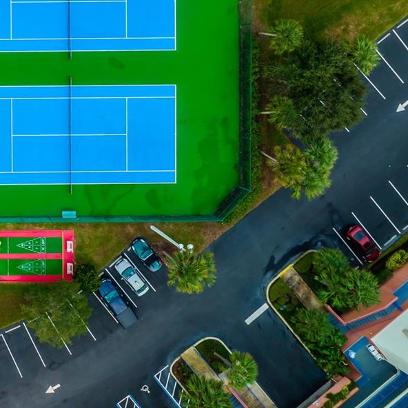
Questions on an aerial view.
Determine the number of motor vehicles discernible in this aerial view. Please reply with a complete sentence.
Altogether the scene contains 4 motor vehicles.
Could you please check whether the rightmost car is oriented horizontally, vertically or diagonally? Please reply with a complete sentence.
I'd say the rightmost car is aligned diagonally in the picture.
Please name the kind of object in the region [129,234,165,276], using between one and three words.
car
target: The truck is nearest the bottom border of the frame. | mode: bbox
[95,278,140,329]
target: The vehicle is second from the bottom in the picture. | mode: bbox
[113,255,153,299]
